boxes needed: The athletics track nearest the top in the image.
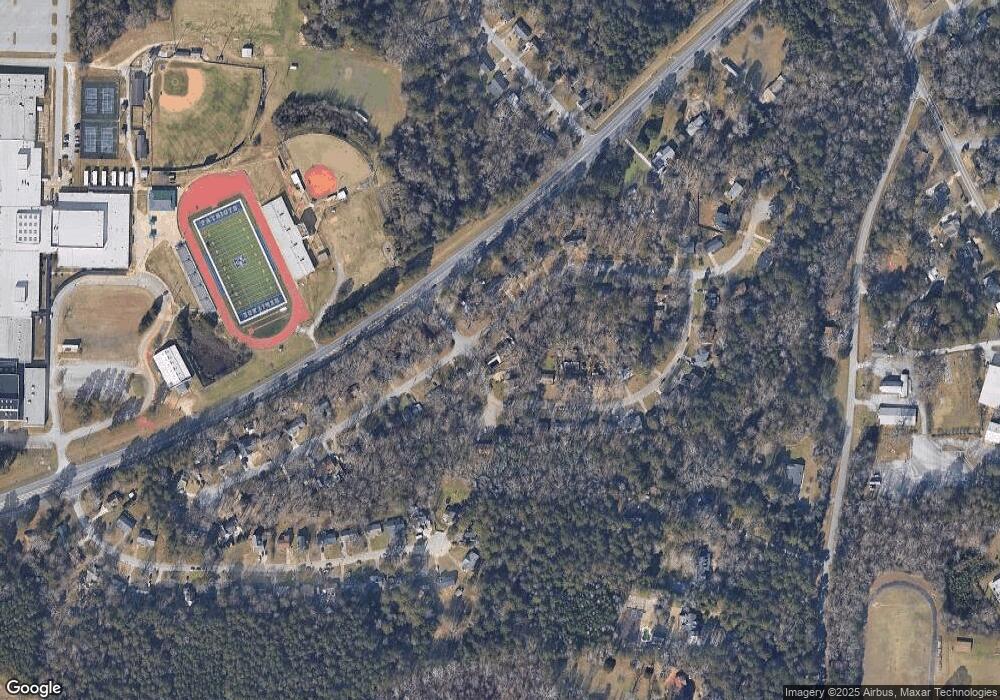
[177,168,310,351]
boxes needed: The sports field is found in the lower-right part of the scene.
[869,586,933,700]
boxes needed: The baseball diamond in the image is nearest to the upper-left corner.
[154,62,262,168]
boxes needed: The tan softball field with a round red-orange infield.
[286,134,373,204]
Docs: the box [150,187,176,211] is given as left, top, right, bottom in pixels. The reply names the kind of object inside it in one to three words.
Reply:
building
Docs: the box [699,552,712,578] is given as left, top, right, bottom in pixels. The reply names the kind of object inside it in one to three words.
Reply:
house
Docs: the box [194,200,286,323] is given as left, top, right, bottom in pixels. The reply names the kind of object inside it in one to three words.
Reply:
sports field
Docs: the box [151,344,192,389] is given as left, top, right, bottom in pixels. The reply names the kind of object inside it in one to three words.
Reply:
building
